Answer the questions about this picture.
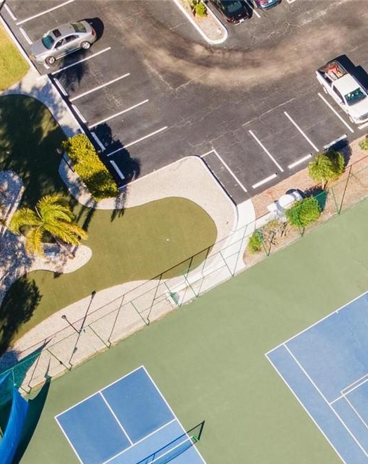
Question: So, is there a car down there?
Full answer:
Yes, a car is visible in the scene.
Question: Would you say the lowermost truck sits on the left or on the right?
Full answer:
The lowermost truck appears in the right half of the scene.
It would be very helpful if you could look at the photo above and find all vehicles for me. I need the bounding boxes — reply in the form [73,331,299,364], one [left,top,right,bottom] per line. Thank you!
[317,60,368,122]
[246,0,276,14]
[204,0,246,26]
[31,22,97,63]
